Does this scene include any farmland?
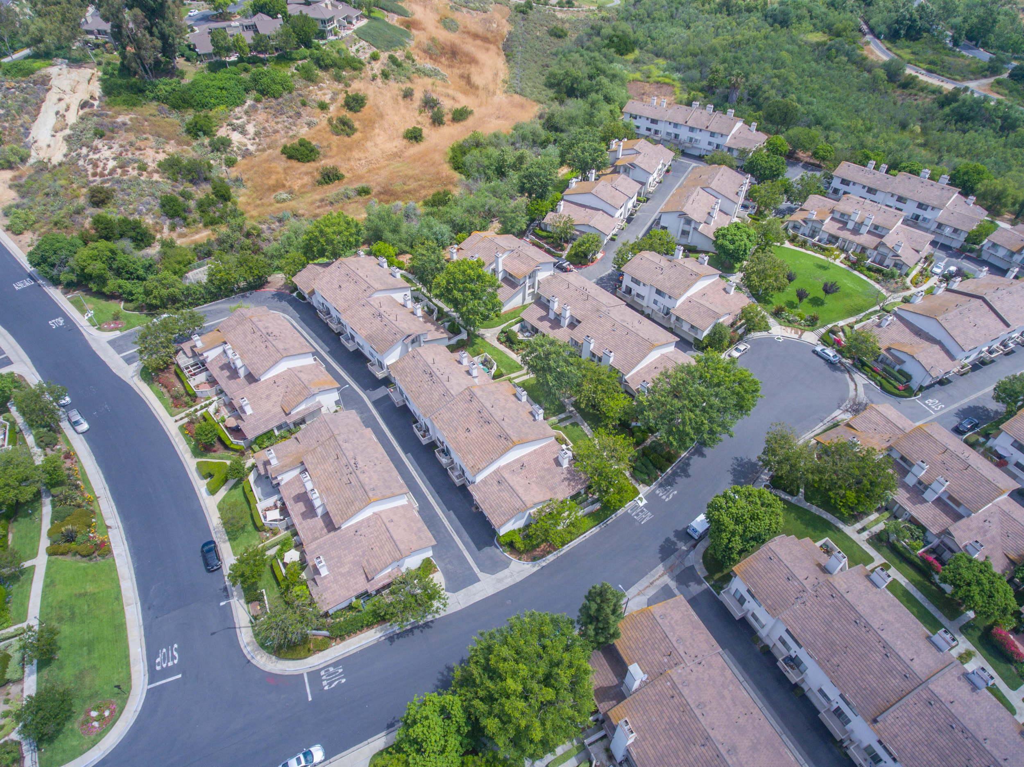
No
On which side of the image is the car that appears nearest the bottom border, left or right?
left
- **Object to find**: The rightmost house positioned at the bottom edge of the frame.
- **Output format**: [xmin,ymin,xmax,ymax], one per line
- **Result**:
[722,537,1024,767]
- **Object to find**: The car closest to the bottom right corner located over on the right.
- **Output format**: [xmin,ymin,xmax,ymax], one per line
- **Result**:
[953,416,978,434]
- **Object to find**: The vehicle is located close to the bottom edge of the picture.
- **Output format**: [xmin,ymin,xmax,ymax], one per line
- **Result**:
[272,745,322,767]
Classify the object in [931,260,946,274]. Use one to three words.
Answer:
car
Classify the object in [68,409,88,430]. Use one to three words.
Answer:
car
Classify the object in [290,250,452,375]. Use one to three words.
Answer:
house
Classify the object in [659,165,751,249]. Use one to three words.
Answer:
house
